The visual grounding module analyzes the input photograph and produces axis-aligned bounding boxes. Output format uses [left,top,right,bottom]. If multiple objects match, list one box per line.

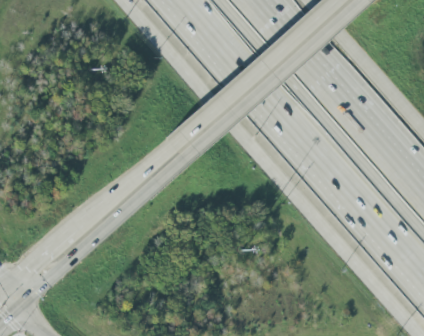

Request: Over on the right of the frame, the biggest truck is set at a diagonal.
[341,109,364,135]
